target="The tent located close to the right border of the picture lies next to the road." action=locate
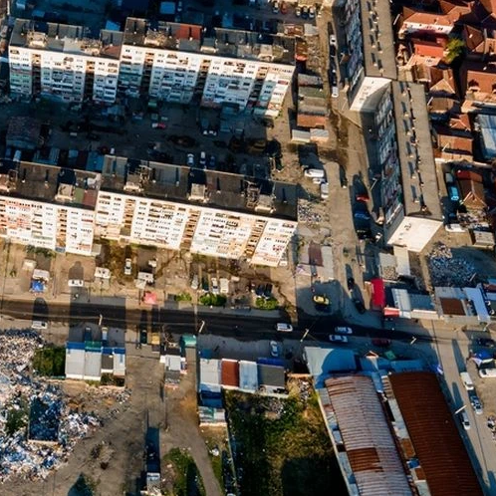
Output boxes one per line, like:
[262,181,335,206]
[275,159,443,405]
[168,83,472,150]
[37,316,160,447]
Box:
[469,347,496,367]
